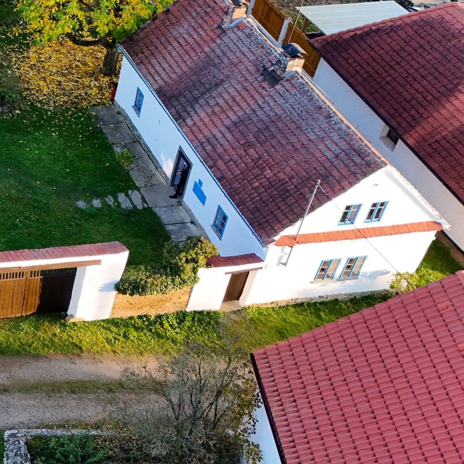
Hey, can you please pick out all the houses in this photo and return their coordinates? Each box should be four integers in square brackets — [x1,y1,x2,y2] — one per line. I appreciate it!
[230,268,464,464]
[112,0,451,309]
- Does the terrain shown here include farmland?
No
